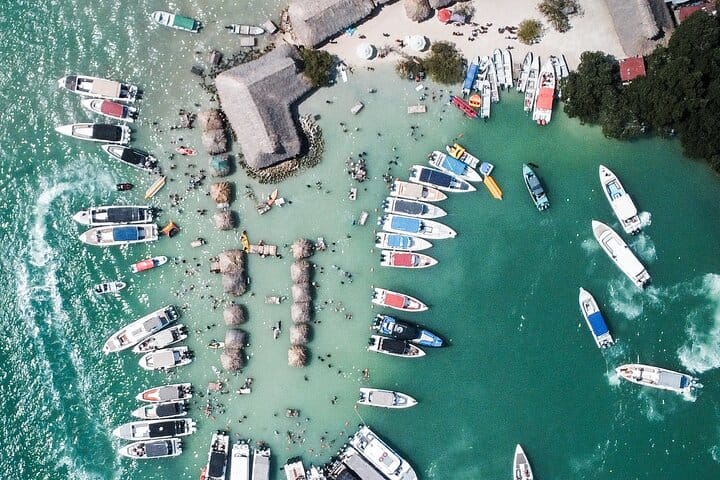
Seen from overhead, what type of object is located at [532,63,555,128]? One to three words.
boat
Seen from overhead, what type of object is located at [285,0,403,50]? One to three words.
building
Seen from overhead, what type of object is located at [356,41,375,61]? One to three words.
umbrella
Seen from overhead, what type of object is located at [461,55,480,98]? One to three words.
boat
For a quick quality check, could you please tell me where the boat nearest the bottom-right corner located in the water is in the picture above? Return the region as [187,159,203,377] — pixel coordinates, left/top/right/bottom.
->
[616,367,698,390]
